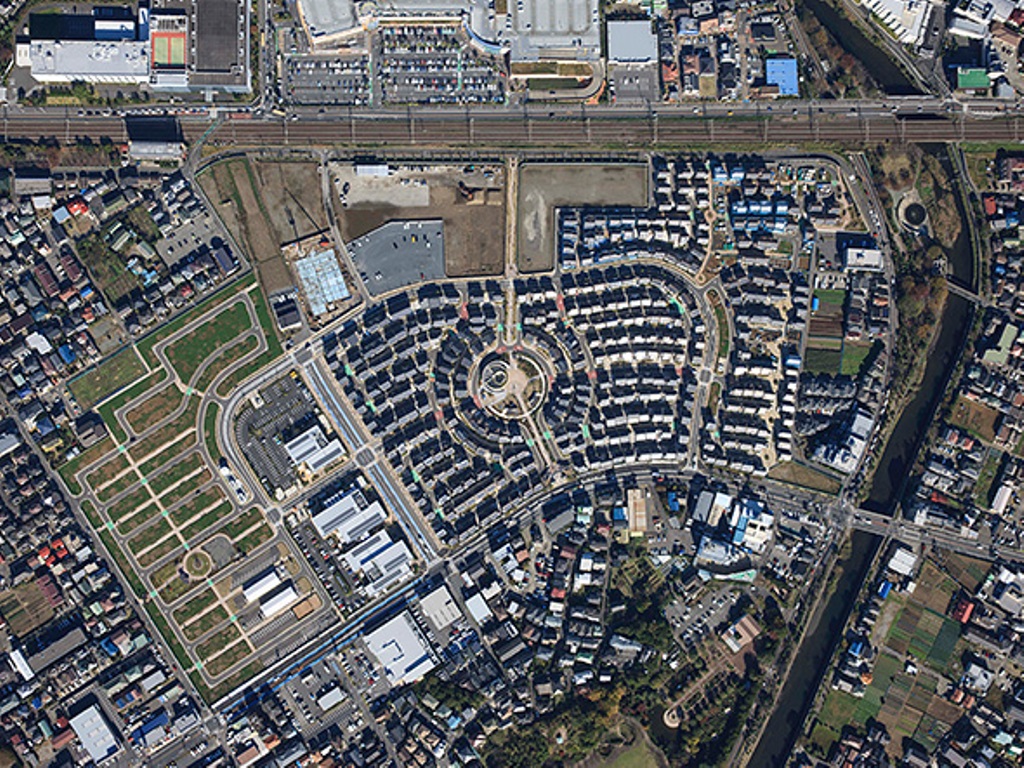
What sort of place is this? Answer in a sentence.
This image shows a residential area.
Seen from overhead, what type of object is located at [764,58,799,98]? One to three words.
building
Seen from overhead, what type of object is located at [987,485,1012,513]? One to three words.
shed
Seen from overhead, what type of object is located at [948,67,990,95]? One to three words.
building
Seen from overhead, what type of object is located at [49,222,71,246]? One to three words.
house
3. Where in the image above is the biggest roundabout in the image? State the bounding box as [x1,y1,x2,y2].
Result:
[183,547,213,577]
